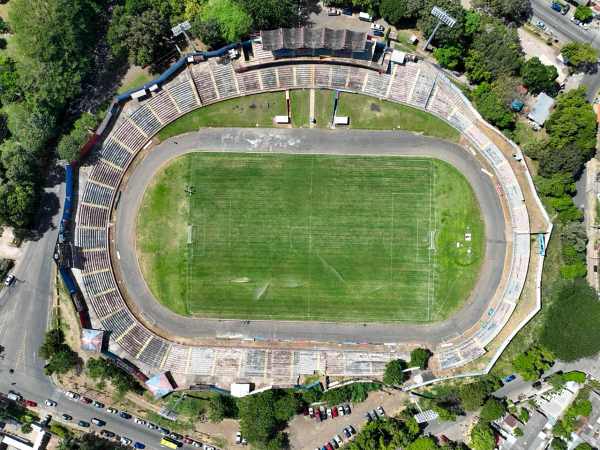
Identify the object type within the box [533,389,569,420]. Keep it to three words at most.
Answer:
house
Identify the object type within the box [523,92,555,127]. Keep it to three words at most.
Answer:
house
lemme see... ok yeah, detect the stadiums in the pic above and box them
[53,25,531,390]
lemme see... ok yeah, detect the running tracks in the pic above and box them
[116,127,507,343]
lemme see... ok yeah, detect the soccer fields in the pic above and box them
[137,152,484,323]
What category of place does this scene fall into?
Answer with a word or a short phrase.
sports ground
